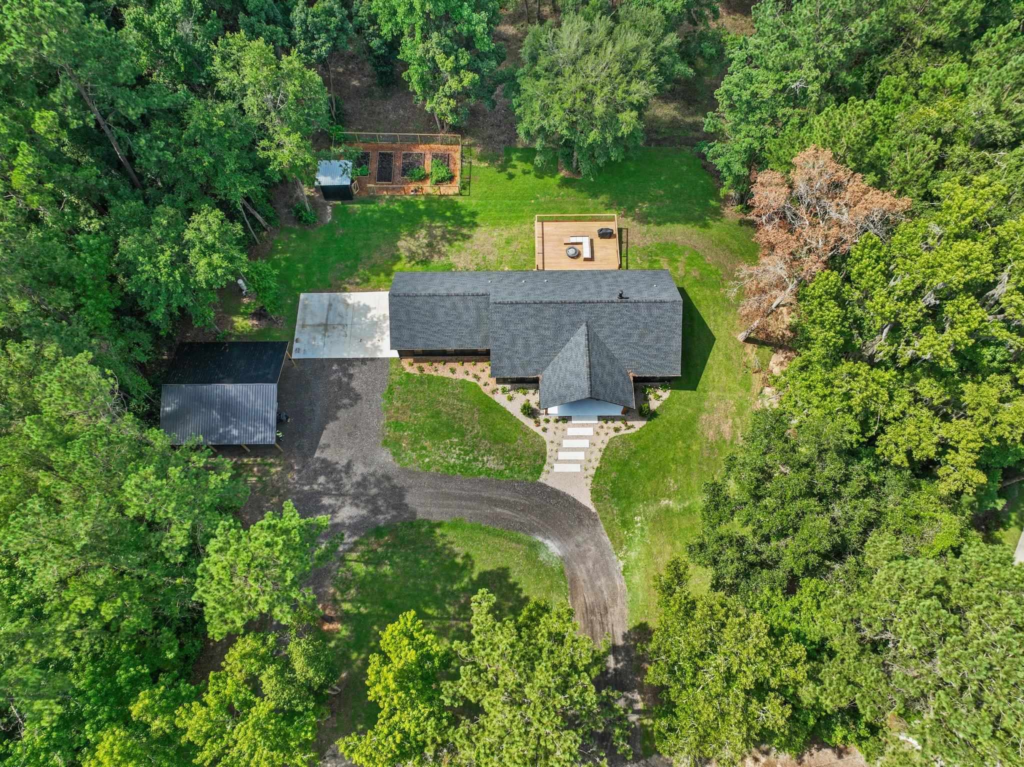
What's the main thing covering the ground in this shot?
trees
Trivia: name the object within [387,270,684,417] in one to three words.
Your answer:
house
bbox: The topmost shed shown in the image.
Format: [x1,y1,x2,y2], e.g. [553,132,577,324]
[315,159,355,200]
